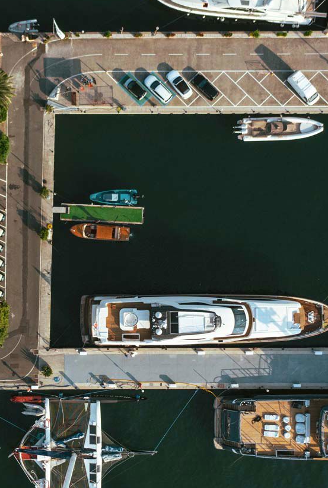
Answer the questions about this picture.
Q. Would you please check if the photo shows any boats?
Yes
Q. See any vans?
Yes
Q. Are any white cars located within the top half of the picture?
Yes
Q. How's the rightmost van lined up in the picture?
diagonally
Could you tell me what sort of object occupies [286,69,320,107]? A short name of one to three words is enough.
van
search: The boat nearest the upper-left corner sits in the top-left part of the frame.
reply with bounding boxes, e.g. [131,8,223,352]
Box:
[8,19,39,32]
